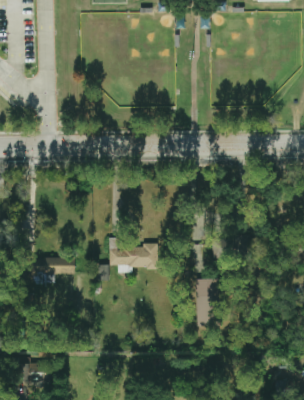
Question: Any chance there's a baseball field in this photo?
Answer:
Yes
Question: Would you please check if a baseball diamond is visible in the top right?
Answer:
Yes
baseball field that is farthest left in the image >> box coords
[80,12,176,106]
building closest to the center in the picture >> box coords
[108,238,158,273]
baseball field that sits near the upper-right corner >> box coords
[210,12,301,106]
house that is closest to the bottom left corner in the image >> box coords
[22,364,45,388]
